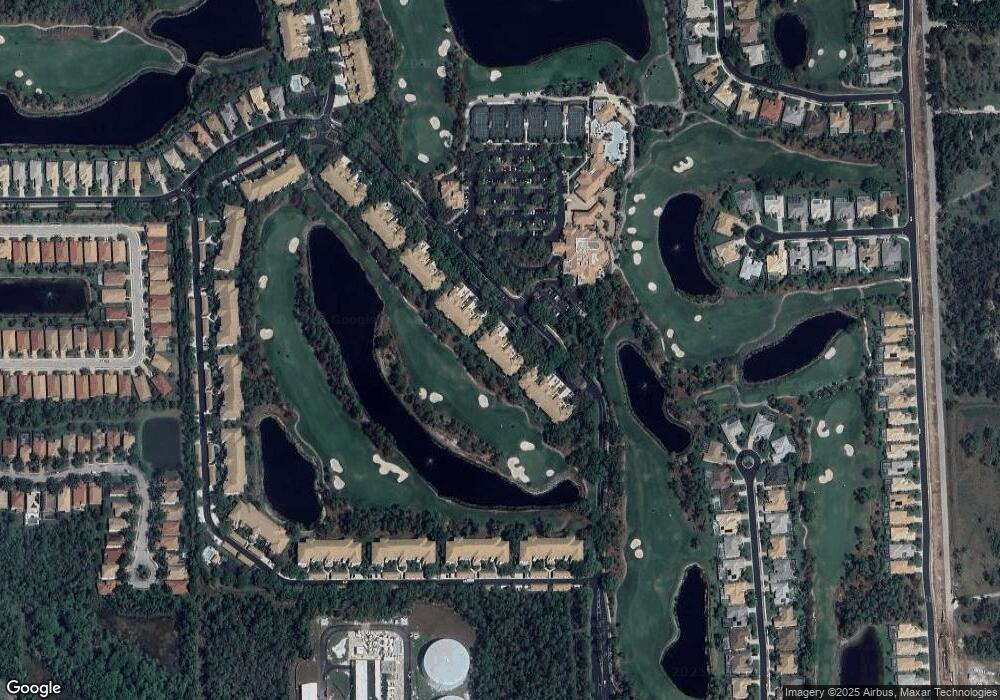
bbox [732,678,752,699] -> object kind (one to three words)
house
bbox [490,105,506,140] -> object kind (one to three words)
tennis court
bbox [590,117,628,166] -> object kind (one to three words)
swimming pool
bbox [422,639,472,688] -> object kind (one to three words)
storage tank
